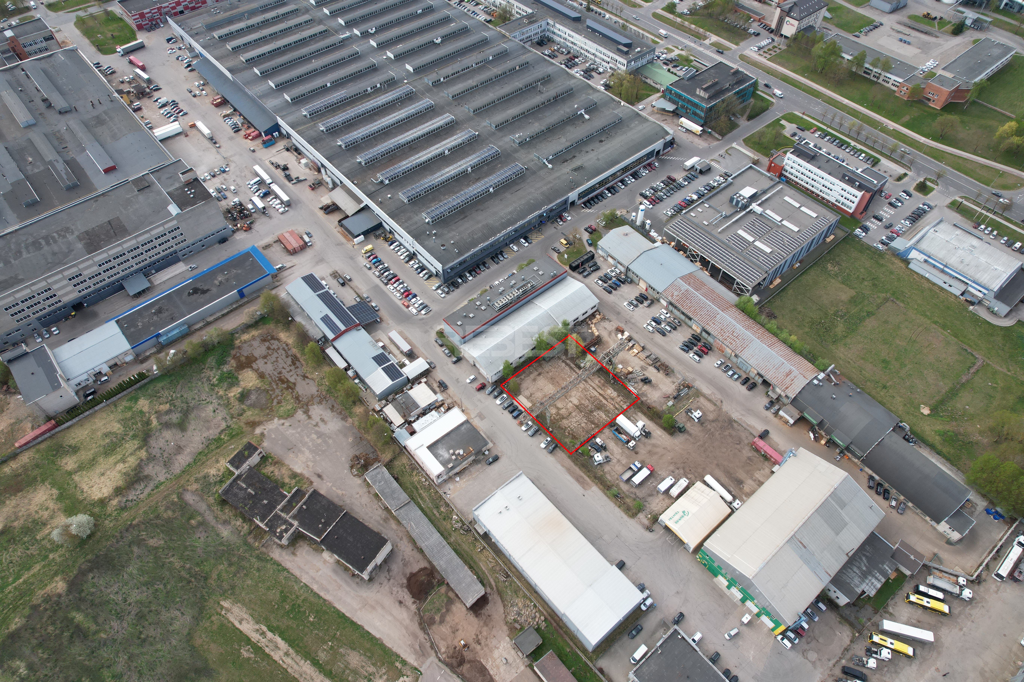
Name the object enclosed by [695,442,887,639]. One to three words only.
warehouse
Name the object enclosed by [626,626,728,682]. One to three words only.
building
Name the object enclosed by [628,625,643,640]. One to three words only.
car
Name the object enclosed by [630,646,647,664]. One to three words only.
vehicle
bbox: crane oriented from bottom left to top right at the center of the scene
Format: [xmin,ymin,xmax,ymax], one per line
[517,338,632,429]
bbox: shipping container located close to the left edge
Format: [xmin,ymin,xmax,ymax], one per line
[0,427,45,456]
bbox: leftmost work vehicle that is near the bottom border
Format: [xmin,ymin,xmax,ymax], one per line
[459,639,471,655]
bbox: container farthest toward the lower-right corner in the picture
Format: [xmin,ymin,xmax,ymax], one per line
[749,437,786,464]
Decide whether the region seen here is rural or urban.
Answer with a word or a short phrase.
urban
